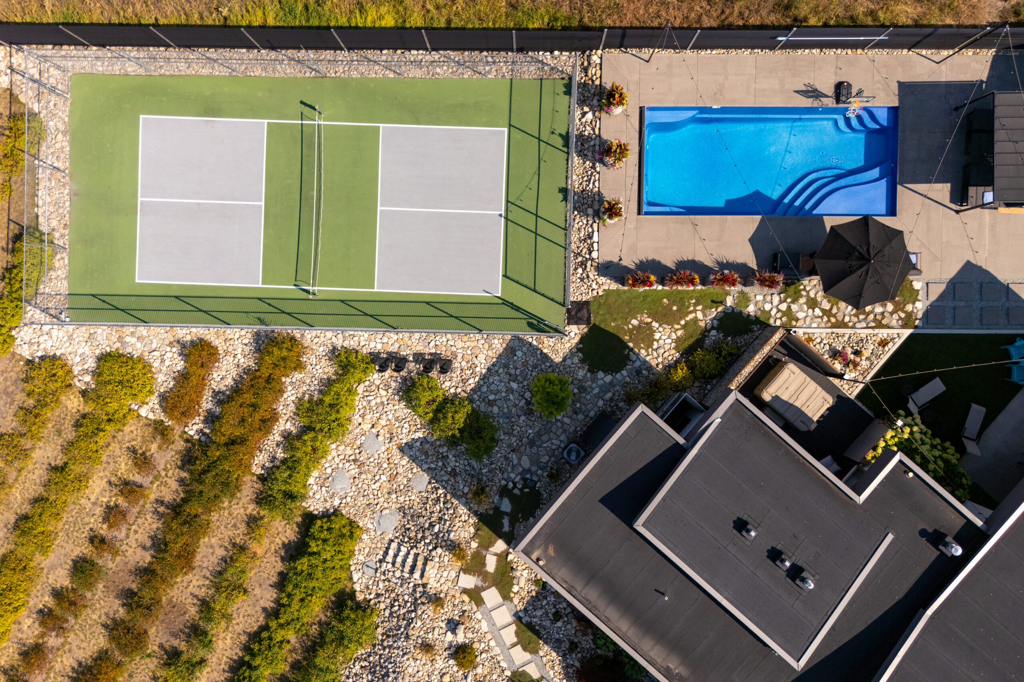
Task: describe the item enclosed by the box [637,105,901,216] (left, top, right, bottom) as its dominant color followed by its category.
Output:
blue swimming pool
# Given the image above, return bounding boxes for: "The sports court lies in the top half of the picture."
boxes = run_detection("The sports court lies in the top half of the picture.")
[68,73,572,335]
